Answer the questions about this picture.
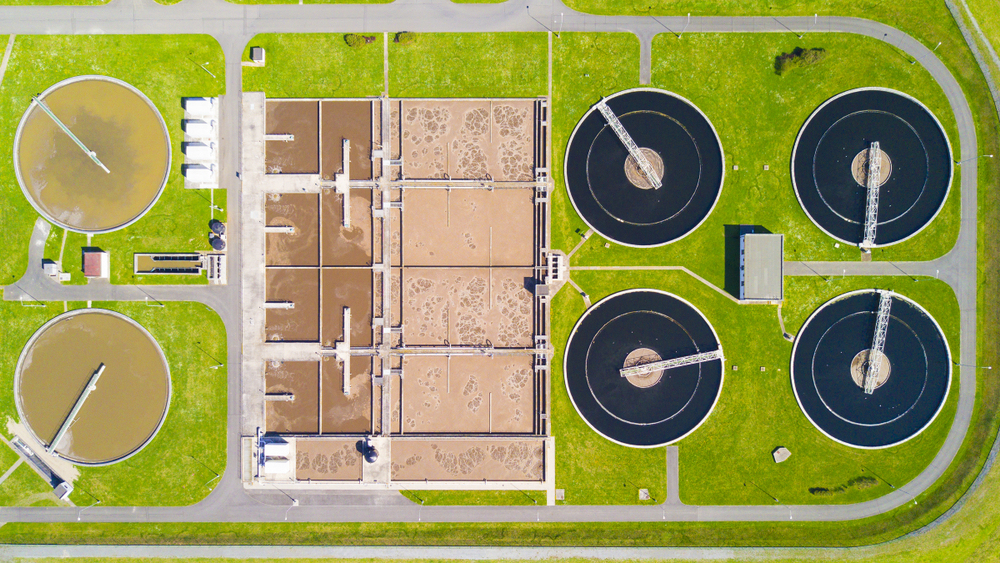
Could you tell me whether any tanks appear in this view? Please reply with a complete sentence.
Yes, looking at the shot, I can spot a tank.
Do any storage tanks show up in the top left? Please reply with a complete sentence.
Yes, the scene does show a storage tank in the top left.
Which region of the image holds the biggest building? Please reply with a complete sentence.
The biggest building is in the right part of the image.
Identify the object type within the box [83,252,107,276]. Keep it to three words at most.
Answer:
house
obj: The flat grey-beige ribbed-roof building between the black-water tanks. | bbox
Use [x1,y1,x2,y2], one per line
[740,234,784,300]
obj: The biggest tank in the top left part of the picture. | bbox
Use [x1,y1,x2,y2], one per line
[13,74,173,232]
